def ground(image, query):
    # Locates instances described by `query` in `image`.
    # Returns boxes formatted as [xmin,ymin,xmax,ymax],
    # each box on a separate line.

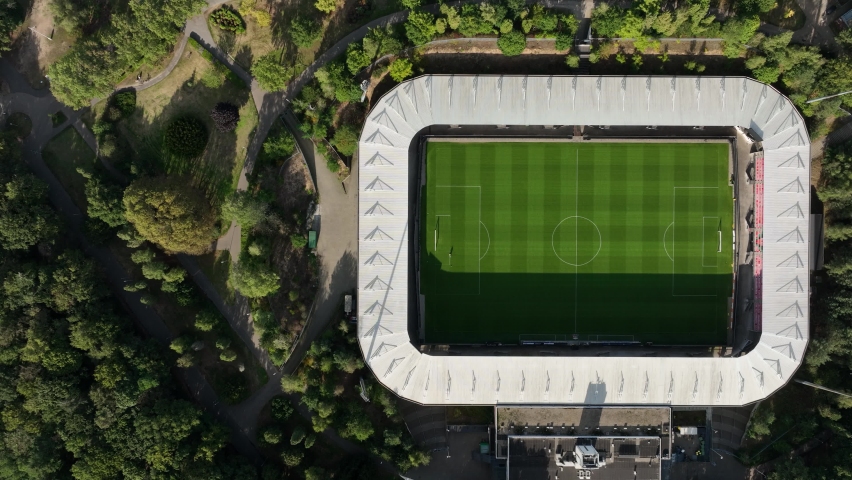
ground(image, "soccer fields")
[420,138,733,346]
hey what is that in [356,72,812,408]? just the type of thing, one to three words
stadium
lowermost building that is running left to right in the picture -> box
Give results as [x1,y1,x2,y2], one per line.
[493,408,672,480]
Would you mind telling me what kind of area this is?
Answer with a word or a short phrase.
sports ground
